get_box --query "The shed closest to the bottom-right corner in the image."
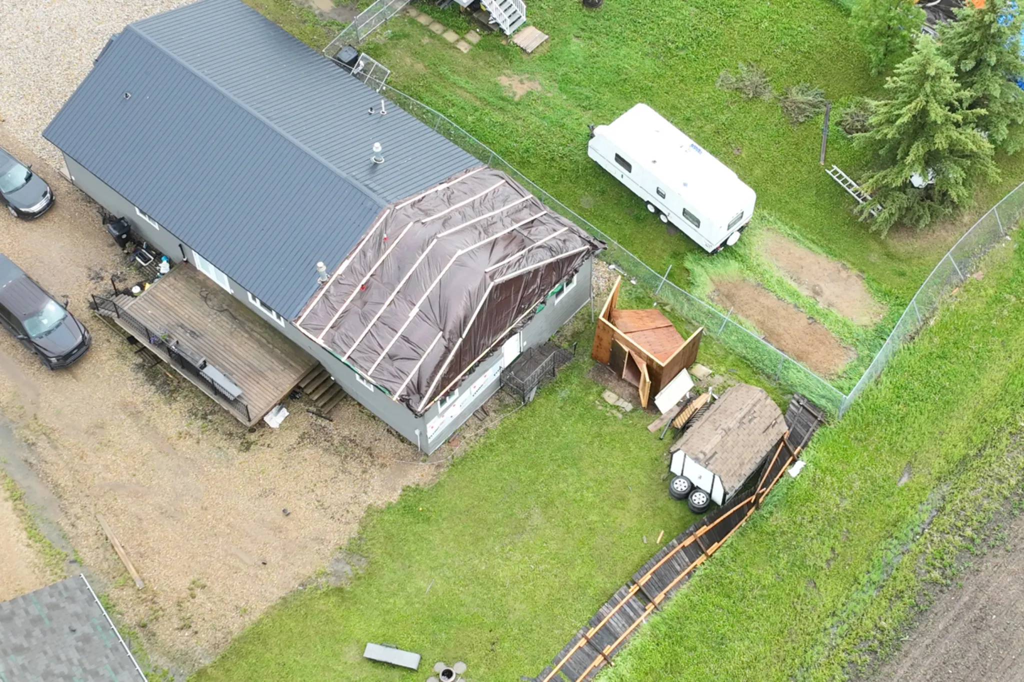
[665,381,789,506]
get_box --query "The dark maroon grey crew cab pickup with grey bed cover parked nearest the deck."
[0,256,94,371]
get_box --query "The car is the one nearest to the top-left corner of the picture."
[0,147,56,225]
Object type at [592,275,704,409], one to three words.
shed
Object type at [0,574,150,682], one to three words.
building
